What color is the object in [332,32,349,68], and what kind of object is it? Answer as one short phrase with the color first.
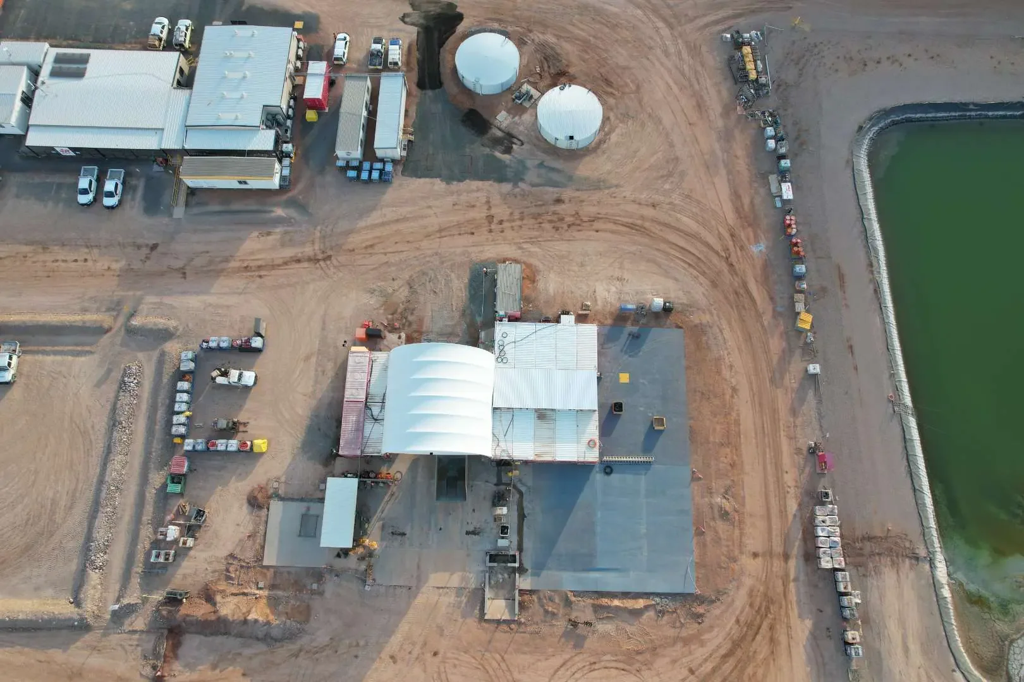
white car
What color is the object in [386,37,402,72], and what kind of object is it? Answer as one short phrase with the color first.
white car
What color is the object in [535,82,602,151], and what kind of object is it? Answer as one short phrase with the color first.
white water tank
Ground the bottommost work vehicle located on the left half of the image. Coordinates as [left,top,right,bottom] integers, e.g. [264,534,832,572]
[209,417,249,434]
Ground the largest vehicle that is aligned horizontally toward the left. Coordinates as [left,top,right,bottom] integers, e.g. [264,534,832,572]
[208,368,260,387]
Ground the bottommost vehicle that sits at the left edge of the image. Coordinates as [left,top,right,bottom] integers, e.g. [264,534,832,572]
[0,337,22,389]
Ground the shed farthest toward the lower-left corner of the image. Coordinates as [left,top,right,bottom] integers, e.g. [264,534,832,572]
[322,478,361,548]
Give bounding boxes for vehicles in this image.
[74,163,98,208]
[146,15,171,51]
[332,32,349,68]
[367,35,384,73]
[208,368,260,387]
[171,17,193,53]
[209,417,249,434]
[0,337,22,389]
[386,37,402,72]
[101,166,124,211]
